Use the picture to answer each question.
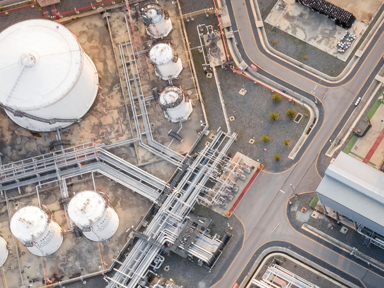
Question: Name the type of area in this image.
industrial area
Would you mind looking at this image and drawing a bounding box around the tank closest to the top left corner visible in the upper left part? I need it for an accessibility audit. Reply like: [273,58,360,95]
[0,17,98,135]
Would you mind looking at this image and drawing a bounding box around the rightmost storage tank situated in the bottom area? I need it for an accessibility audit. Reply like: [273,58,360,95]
[66,190,120,241]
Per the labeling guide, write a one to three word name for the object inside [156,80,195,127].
storage tank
